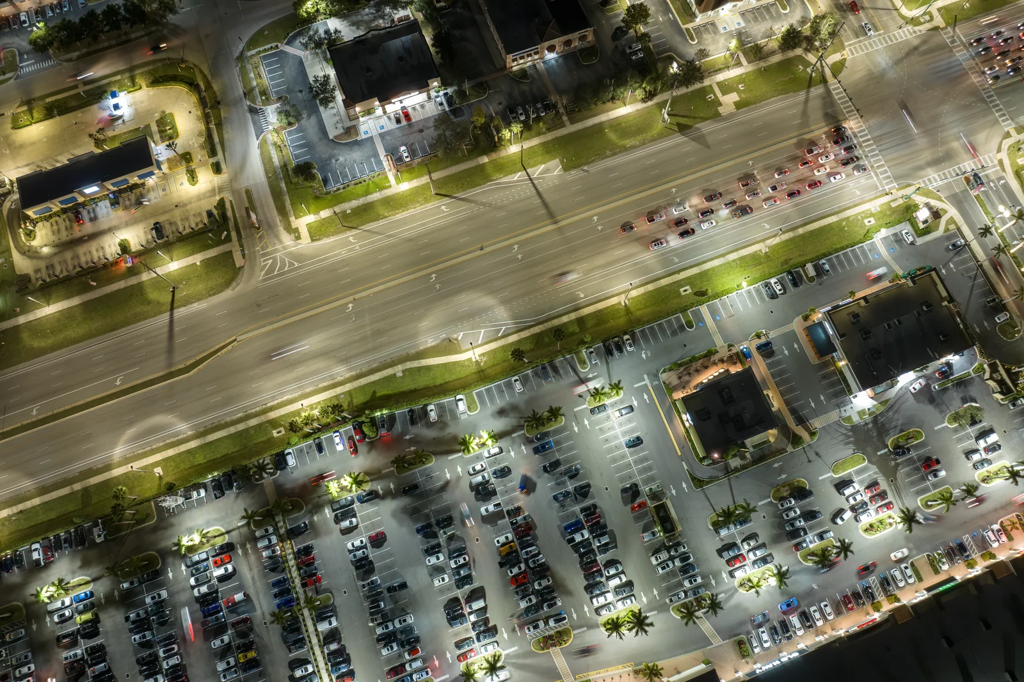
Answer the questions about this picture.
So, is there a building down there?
Yes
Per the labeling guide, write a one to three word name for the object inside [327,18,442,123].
building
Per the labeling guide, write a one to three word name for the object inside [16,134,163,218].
building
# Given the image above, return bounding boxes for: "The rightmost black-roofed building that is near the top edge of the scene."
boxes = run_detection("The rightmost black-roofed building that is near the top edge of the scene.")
[467,0,593,70]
